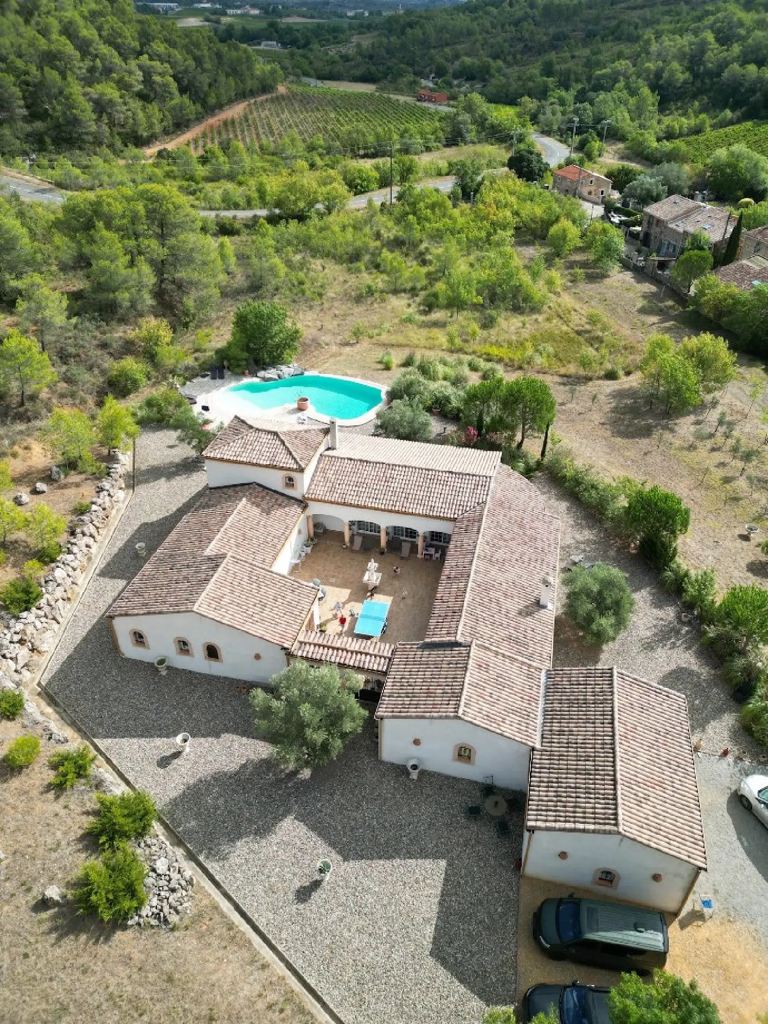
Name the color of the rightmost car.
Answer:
white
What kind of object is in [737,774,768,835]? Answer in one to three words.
car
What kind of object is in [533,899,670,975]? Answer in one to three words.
van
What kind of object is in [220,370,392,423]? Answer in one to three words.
swimming pool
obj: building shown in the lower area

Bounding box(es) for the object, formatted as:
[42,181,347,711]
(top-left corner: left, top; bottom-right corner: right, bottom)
[101,414,710,916]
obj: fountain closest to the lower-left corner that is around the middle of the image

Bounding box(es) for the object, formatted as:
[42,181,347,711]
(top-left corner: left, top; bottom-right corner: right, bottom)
[360,567,381,597]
